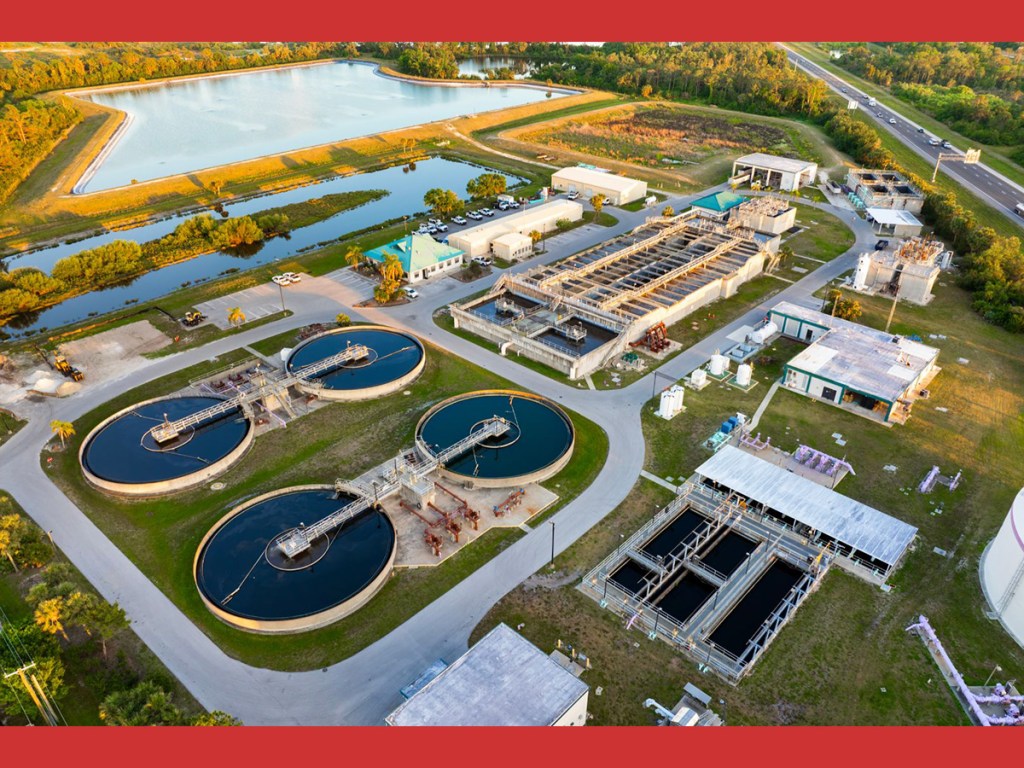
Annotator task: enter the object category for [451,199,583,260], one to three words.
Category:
building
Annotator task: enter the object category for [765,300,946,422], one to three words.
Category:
building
